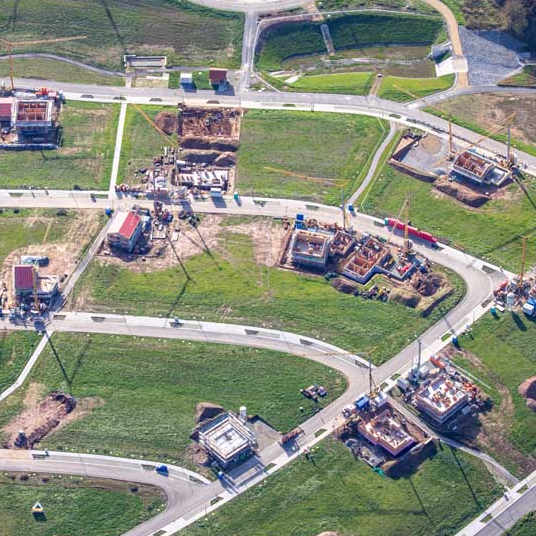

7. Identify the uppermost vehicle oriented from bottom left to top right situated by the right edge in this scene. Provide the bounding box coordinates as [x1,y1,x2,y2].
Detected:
[491,272,513,293]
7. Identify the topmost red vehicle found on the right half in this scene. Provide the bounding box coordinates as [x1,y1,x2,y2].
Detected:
[386,217,438,246]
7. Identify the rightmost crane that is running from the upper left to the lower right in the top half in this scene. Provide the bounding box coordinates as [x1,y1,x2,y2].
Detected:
[265,166,361,238]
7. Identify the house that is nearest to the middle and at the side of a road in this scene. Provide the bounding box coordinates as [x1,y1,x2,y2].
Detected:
[292,230,331,267]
